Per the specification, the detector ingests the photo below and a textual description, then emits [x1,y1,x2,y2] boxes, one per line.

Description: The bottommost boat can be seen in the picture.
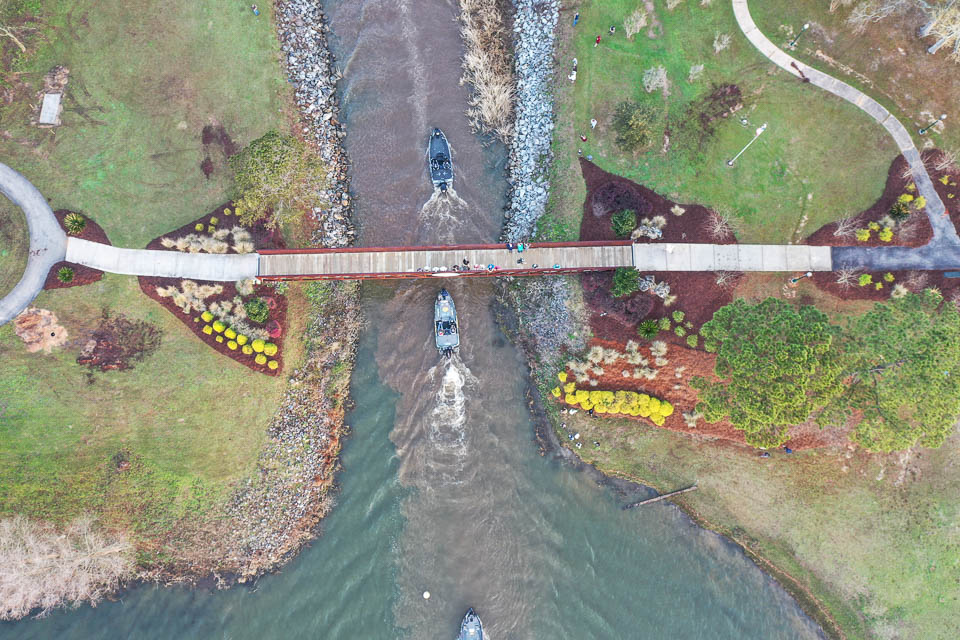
[460,607,487,640]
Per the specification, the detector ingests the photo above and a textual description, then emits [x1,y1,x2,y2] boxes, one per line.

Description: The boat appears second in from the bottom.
[434,290,460,358]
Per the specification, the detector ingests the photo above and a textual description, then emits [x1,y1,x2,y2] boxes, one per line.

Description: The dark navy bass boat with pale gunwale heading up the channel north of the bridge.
[429,127,452,190]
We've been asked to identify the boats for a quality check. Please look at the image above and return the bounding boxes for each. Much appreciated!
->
[460,607,487,640]
[434,290,460,358]
[429,127,452,190]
